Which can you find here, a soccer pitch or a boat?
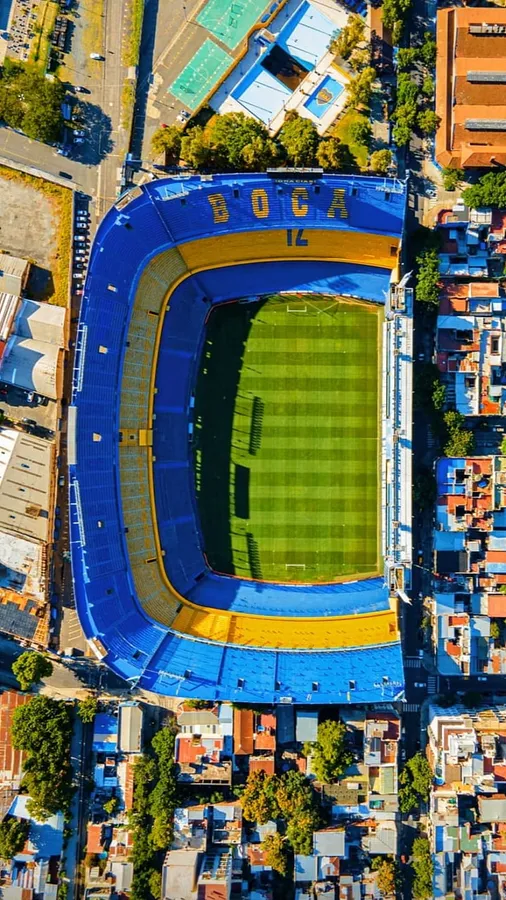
soccer pitch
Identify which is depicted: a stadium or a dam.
stadium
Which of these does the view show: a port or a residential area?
residential area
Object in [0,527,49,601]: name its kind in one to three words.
building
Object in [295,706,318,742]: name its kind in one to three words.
house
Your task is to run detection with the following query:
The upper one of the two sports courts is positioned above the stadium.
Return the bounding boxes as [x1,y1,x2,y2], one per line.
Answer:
[196,0,271,49]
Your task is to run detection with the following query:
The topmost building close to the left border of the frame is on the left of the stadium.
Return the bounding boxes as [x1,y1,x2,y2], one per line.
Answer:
[0,254,35,300]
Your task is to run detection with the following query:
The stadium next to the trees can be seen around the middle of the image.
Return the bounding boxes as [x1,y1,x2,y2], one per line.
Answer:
[66,165,416,705]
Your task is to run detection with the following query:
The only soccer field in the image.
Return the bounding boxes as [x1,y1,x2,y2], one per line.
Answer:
[191,294,385,584]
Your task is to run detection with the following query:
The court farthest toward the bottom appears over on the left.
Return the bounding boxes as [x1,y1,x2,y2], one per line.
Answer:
[168,38,234,110]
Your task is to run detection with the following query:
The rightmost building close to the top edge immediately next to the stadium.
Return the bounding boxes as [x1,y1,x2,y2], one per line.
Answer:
[429,8,506,178]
